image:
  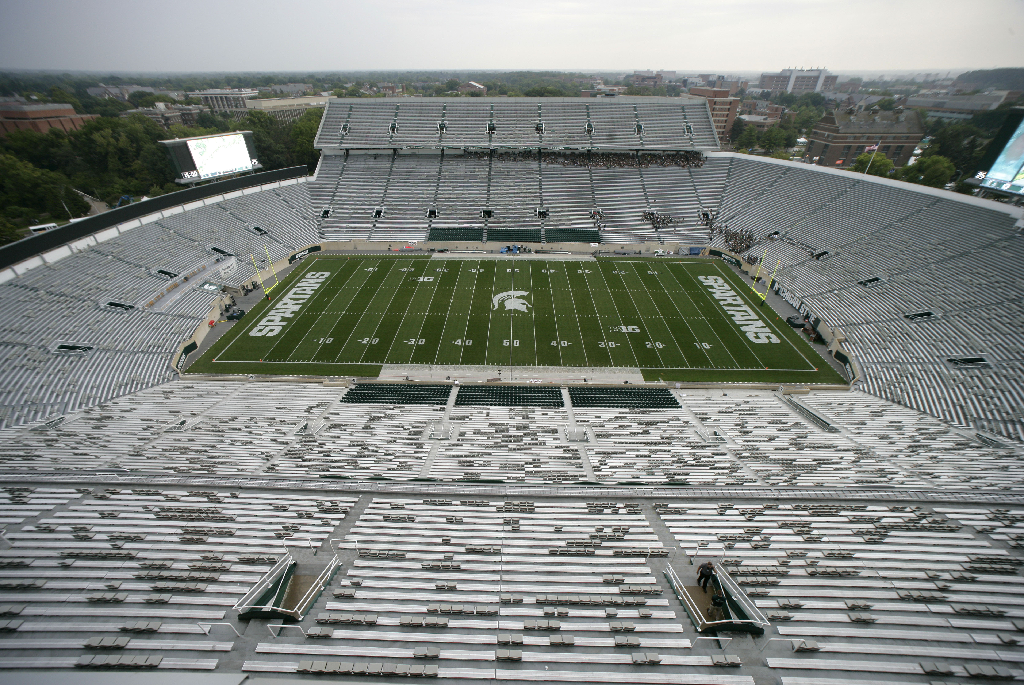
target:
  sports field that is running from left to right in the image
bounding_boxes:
[180,254,847,383]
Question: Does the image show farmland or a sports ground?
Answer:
sports ground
